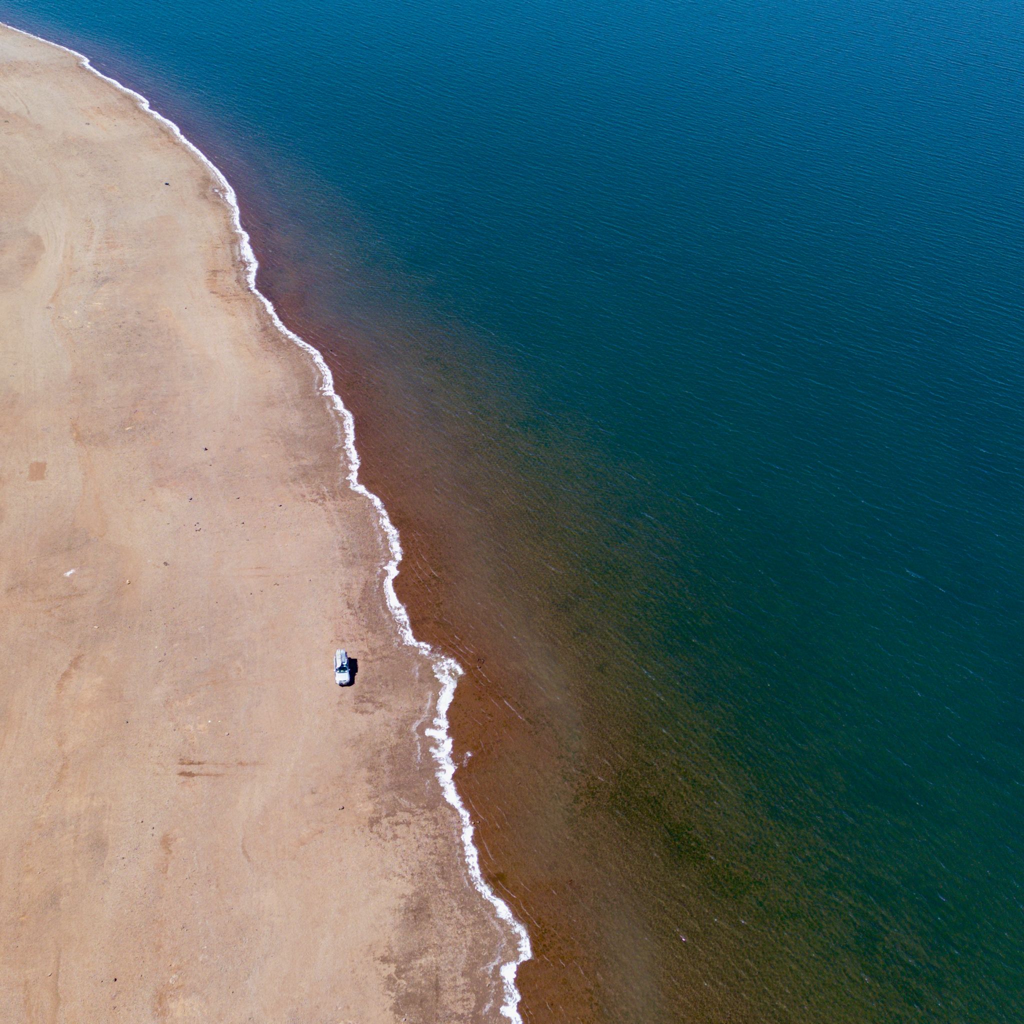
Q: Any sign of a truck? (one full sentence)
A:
No, the scene contains no truck.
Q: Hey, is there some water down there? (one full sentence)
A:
Yes, water shows up in the scene.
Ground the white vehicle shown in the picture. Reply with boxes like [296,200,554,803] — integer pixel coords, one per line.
[334,650,351,686]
